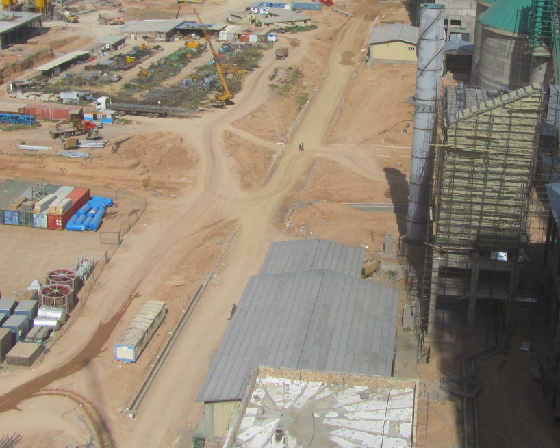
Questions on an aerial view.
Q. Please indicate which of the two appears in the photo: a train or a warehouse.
warehouse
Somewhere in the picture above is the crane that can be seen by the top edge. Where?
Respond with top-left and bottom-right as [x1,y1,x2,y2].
[173,0,238,107]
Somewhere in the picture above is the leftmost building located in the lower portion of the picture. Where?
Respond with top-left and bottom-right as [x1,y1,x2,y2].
[115,303,159,359]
